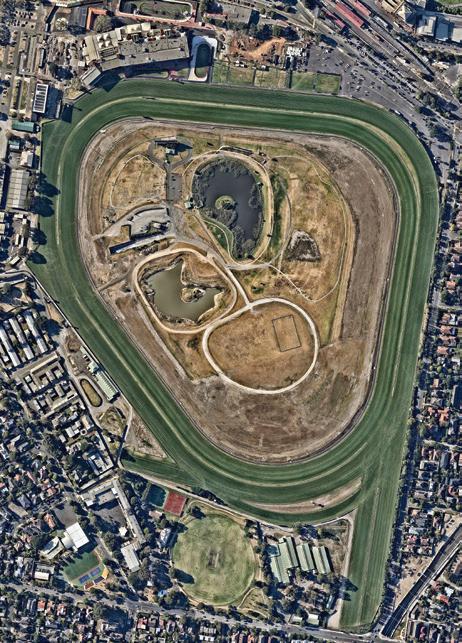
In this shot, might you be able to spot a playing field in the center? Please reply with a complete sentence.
No, in the center there is no playing field.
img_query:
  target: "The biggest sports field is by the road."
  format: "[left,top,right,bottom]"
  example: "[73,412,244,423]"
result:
[62,549,110,592]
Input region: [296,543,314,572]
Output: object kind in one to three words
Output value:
shed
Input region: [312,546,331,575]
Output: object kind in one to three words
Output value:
shed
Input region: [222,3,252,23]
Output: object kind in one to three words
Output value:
building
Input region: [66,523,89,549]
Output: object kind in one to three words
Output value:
building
